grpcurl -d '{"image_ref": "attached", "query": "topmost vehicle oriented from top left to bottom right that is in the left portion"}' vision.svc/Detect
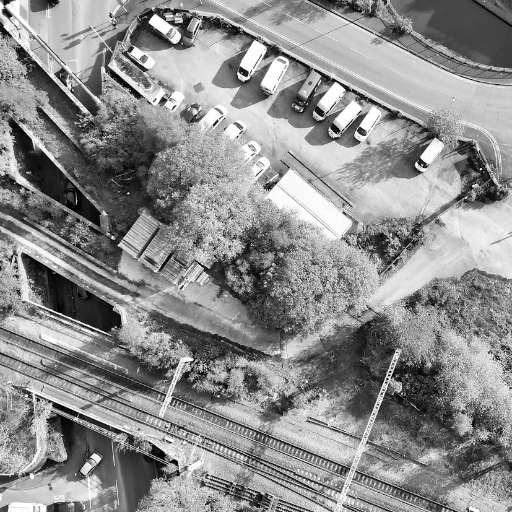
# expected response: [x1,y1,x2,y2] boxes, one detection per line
[147,9,182,47]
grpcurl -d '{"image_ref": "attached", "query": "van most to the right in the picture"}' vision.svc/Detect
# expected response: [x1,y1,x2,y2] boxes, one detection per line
[415,137,444,174]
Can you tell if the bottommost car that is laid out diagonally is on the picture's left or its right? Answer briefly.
left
